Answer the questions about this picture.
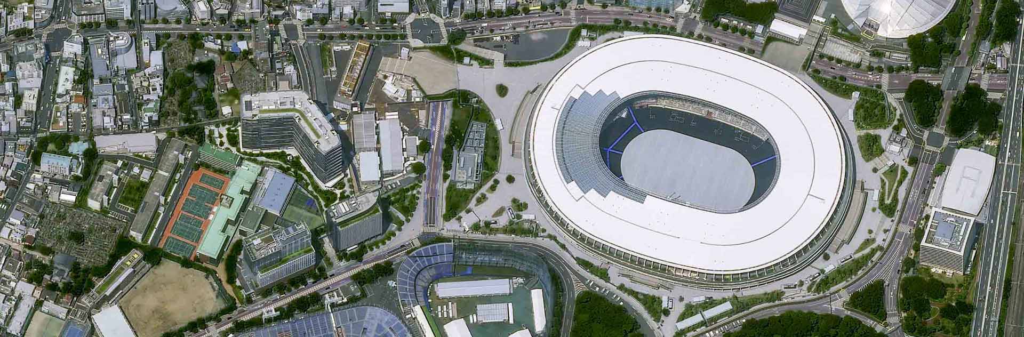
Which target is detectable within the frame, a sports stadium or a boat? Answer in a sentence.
I can see a sports stadium in this picture.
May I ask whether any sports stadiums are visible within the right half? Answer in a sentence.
Yes, a sports stadium is visible within the right half.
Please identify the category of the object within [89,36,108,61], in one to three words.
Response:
building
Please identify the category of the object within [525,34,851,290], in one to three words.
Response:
stadium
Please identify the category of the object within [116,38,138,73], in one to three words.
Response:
building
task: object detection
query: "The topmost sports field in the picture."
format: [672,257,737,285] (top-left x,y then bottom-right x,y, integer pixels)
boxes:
[281,182,325,225]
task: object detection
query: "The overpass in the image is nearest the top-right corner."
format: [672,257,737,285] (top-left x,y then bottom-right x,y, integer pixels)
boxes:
[941,50,975,112]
